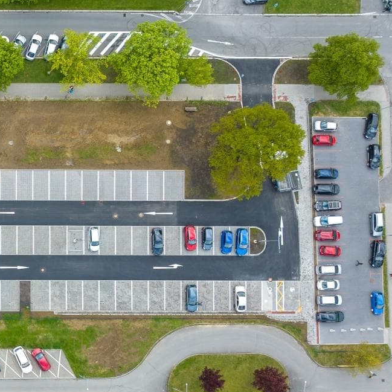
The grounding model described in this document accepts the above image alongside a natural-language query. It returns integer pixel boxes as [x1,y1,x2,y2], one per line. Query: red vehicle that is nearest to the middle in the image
[181,224,197,252]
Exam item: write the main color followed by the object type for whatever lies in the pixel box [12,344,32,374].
white car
